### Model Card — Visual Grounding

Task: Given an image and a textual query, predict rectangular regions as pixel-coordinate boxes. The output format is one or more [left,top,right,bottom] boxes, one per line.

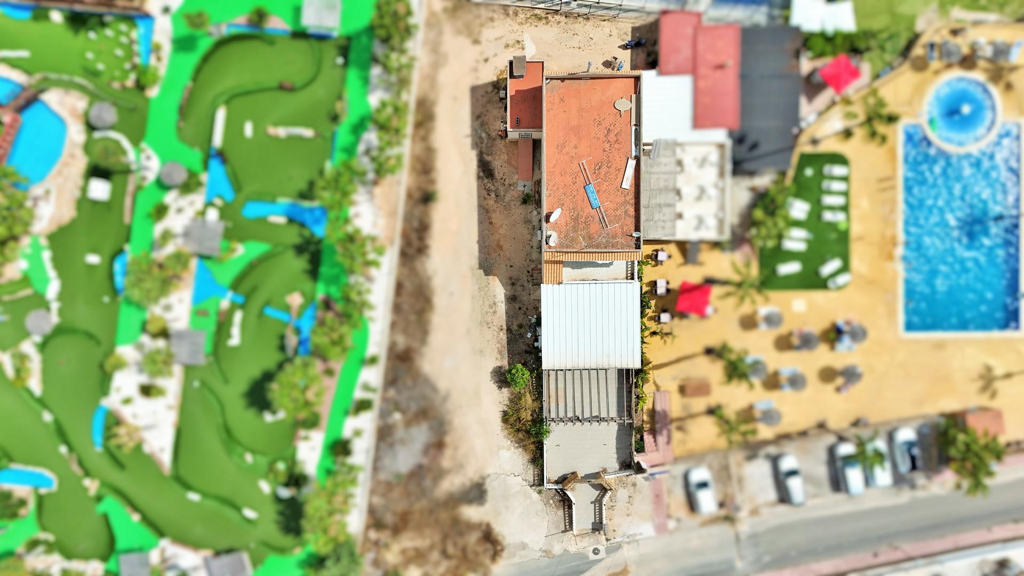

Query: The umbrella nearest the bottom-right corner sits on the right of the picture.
[838,362,862,387]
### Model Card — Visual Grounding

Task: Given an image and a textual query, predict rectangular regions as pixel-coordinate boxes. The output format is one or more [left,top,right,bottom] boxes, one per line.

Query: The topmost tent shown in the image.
[790,0,857,39]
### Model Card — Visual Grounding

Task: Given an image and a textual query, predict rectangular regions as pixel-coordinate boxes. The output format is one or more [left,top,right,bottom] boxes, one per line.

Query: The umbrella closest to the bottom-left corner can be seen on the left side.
[29,308,56,336]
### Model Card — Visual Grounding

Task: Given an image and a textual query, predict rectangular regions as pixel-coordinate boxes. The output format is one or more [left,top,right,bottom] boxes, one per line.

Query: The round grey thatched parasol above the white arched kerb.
[90,101,120,130]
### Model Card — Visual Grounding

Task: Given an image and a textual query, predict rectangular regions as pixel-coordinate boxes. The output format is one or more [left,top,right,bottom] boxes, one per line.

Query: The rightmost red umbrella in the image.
[818,53,861,95]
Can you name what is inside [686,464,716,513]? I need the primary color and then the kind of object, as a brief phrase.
white car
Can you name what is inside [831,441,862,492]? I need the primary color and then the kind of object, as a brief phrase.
white car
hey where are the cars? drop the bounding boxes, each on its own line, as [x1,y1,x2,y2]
[859,437,890,486]
[831,441,862,492]
[773,453,805,503]
[889,424,920,473]
[686,464,716,513]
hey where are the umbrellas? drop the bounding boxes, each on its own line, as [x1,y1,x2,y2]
[162,162,189,188]
[29,308,56,336]
[987,40,1013,65]
[938,41,962,66]
[793,327,817,351]
[818,53,861,95]
[755,401,779,426]
[90,101,120,130]
[779,367,804,392]
[838,362,862,387]
[676,282,712,317]
[757,306,783,331]
[840,320,865,344]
